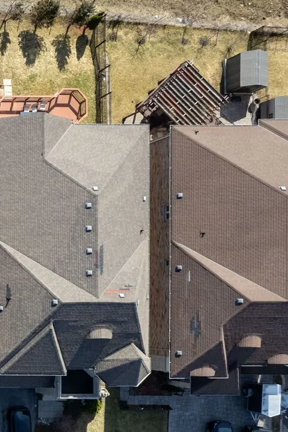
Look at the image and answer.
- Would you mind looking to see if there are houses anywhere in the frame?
Yes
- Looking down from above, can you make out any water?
No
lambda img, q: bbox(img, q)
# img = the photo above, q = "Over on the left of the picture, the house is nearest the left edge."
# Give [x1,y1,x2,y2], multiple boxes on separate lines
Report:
[0,113,152,399]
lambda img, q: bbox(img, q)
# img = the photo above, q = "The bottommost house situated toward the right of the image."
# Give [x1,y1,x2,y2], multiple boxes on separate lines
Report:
[151,117,288,395]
